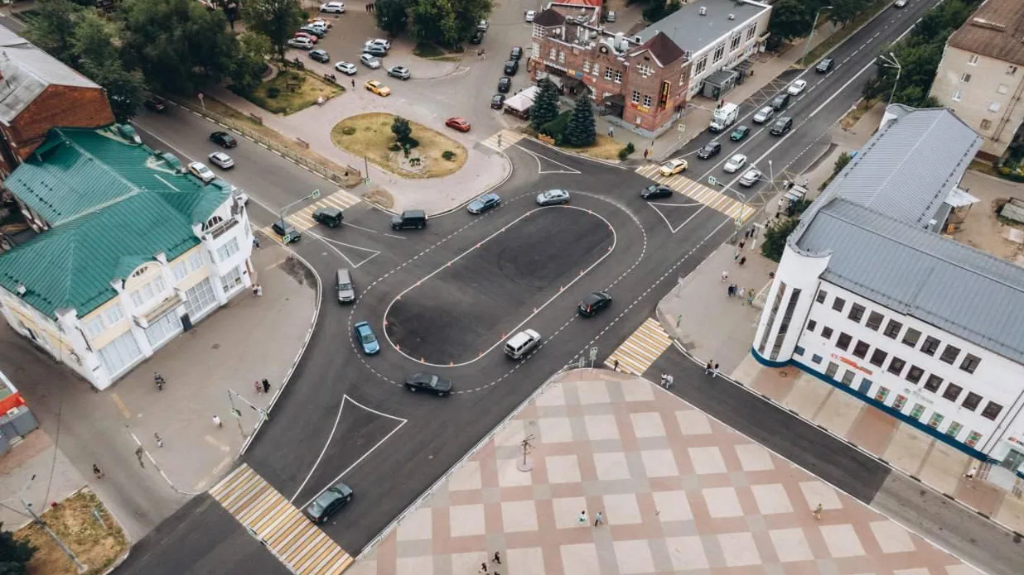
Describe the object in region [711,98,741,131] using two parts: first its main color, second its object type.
white truck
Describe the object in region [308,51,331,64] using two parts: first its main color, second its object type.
gray vehicle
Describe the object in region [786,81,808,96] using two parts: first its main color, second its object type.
white car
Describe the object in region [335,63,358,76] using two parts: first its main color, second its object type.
white vehicle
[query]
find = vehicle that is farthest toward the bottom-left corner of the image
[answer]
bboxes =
[300,482,359,530]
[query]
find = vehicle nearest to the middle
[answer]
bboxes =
[501,330,543,363]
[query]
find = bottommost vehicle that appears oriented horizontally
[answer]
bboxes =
[402,372,455,399]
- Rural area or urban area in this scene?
urban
